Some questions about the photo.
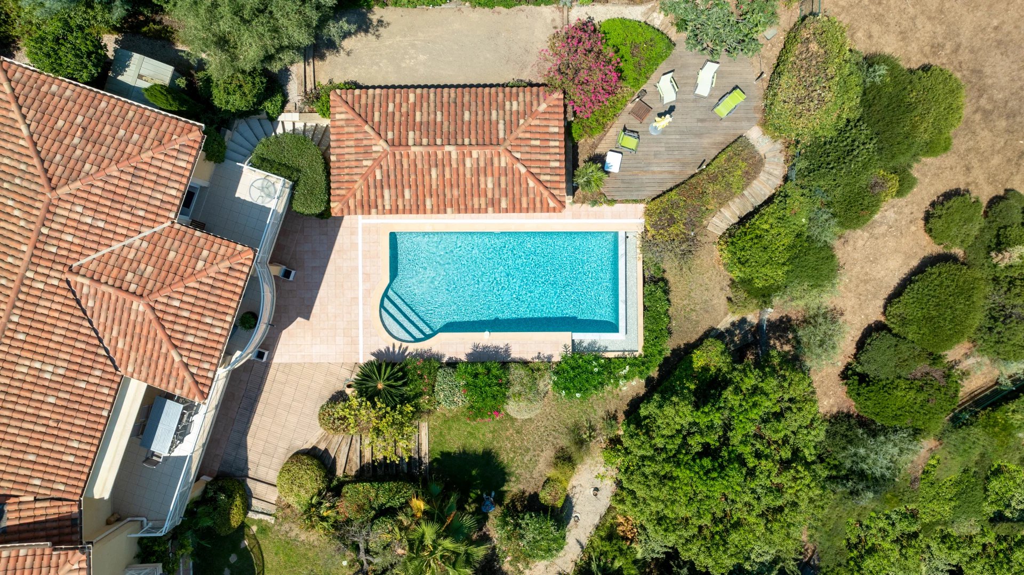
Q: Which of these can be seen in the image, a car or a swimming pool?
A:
swimming pool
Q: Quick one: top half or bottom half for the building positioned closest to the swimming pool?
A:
top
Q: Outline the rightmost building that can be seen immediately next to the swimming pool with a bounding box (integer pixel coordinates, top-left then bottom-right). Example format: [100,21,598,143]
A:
[328,85,568,217]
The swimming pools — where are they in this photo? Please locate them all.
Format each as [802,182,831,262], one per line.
[370,223,644,354]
